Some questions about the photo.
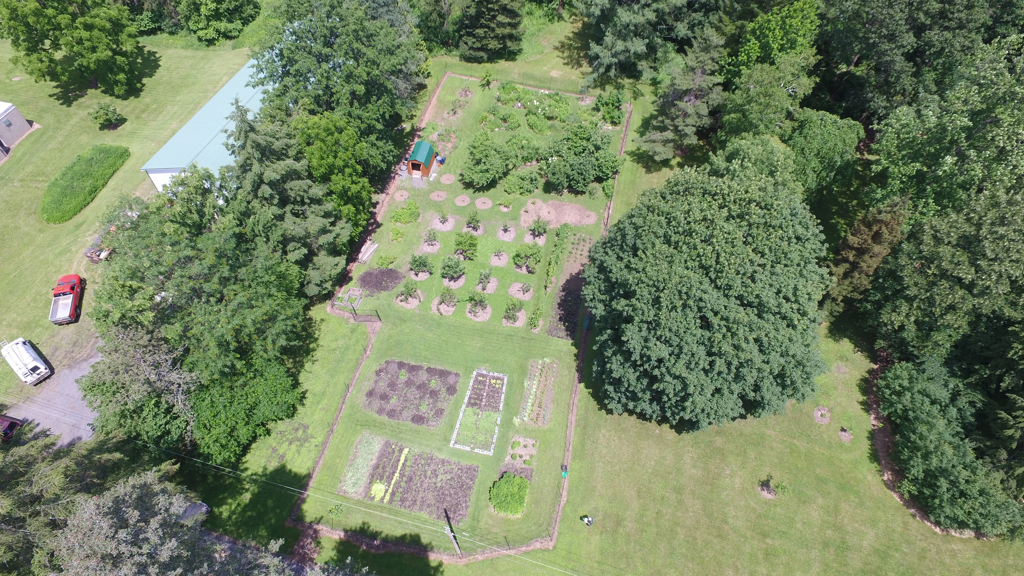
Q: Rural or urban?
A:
rural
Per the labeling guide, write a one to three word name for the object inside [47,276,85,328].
truck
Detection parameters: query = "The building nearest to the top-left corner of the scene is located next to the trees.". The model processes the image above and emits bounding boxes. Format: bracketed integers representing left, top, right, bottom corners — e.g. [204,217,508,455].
[0,102,31,158]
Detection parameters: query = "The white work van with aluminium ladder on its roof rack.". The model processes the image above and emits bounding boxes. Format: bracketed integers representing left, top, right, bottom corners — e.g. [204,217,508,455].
[1,335,49,384]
